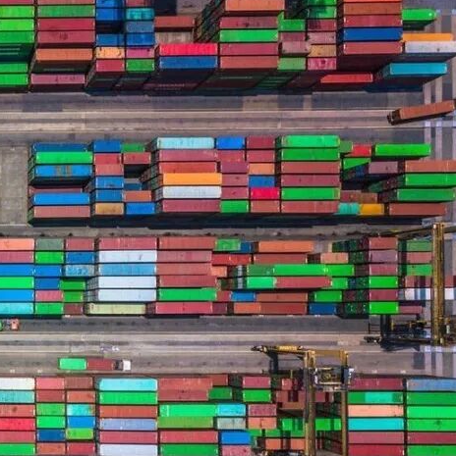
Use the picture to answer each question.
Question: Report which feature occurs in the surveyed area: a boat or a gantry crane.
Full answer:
There is a gantry crane in the scene.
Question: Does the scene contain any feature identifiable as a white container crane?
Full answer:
No, I can see no white container crane in this picture.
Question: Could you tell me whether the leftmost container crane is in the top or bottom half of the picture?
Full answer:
The bottom half of the photo is where the leftmost container crane is.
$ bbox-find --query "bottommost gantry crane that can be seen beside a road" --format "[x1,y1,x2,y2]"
[250,340,357,456]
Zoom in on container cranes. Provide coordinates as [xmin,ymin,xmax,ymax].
[250,340,357,456]
[361,218,456,350]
